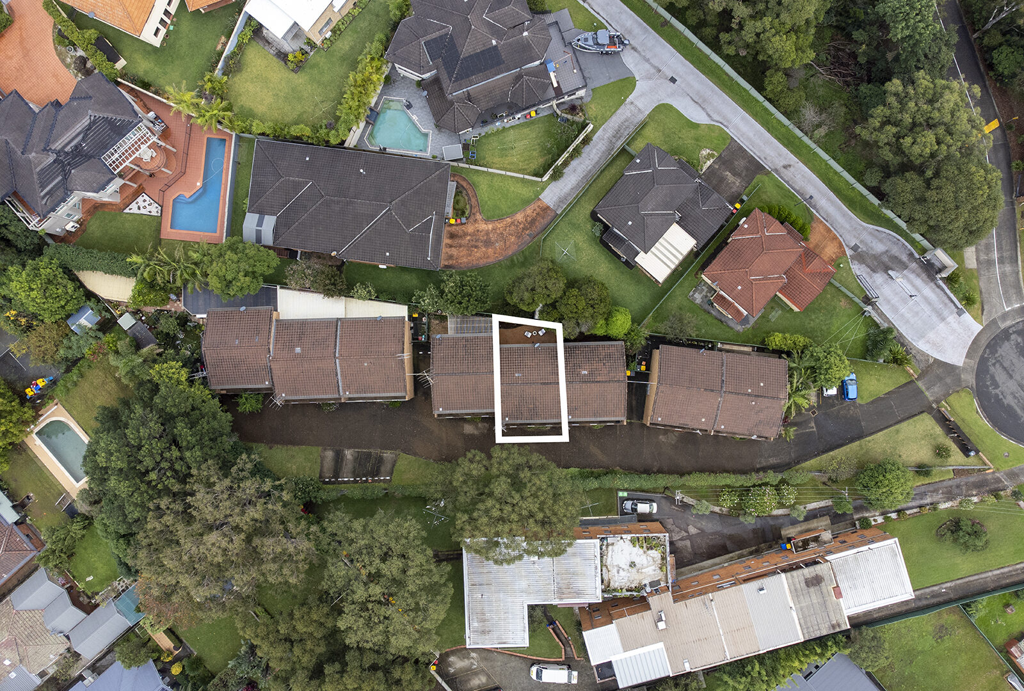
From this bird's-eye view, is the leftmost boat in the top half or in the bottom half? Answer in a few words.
top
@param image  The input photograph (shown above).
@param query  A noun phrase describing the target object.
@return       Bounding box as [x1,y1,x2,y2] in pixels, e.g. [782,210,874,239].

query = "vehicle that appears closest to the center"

[621,499,657,514]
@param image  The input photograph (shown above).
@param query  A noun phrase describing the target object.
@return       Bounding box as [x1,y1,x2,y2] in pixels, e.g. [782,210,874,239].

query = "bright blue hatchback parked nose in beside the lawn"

[839,372,858,402]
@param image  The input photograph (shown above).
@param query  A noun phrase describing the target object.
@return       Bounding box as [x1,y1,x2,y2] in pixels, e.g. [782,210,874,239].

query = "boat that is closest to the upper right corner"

[573,32,629,53]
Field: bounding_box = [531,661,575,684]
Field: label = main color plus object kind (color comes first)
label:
white vehicle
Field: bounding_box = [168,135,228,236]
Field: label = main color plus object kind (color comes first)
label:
blue swimming pool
